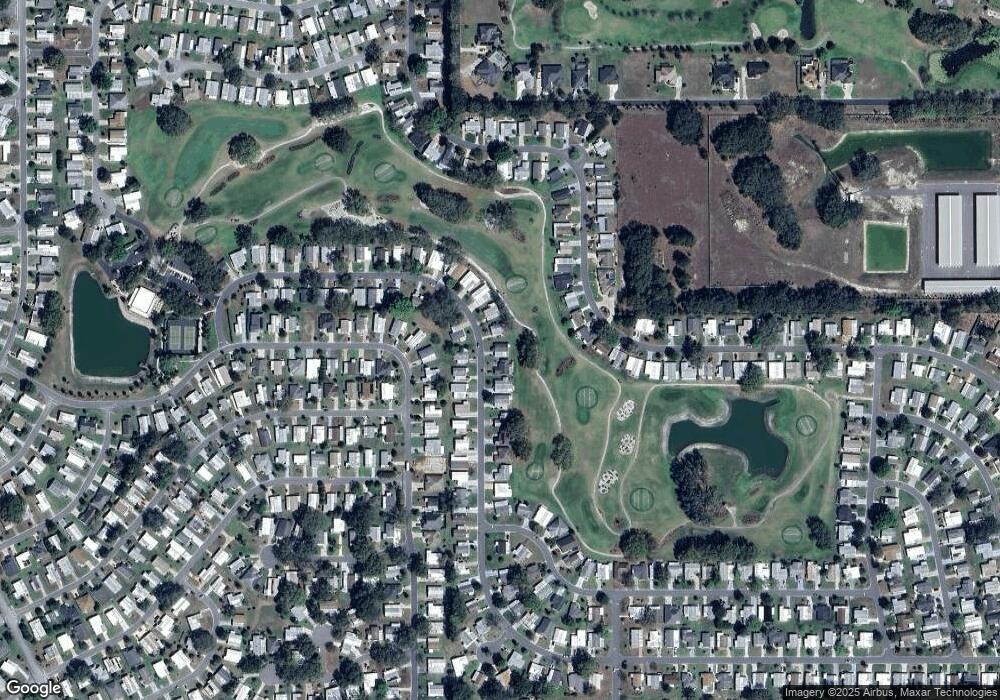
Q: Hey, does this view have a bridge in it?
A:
No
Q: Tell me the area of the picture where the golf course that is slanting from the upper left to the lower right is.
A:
center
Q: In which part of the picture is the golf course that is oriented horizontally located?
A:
top right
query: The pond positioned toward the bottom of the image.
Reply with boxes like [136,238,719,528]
[668,398,787,477]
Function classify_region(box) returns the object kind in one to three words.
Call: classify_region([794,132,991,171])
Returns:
pond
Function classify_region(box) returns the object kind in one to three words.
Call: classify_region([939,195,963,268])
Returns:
building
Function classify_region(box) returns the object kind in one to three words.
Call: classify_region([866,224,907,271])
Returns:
pond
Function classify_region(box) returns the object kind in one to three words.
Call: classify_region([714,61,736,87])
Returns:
house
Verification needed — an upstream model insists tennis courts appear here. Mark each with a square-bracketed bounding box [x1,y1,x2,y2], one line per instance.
[185,325,195,350]
[172,325,183,350]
